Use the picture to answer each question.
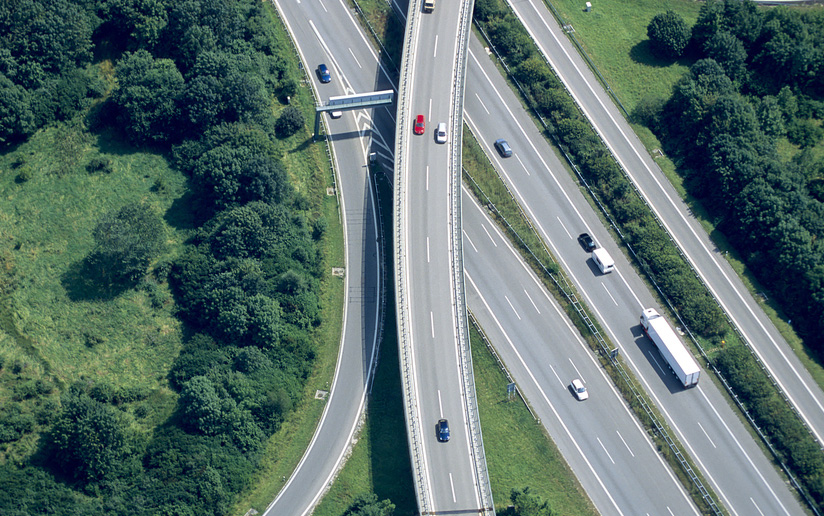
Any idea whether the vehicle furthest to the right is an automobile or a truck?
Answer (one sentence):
I'd say the vehicle furthest to the right is a truck.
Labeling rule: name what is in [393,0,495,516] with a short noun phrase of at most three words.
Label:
bridge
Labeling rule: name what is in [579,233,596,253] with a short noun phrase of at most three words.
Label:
car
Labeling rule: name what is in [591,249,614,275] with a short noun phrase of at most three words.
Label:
camper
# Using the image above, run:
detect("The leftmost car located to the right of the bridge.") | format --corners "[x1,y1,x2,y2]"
[496,138,512,157]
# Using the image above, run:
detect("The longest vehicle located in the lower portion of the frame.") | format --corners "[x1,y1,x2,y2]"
[640,309,699,386]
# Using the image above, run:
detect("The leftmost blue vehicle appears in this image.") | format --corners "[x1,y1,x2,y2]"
[316,63,332,82]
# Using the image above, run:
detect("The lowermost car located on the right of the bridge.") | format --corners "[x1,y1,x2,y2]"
[572,378,587,400]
